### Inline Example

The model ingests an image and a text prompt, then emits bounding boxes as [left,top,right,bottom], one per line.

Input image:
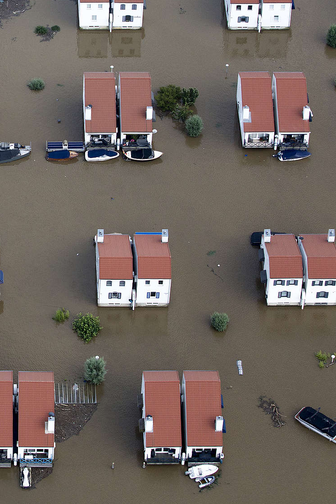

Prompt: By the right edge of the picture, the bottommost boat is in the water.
[295,407,336,444]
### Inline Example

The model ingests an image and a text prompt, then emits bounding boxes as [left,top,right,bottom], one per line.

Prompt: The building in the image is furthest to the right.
[298,228,336,306]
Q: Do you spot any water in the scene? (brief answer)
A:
Yes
